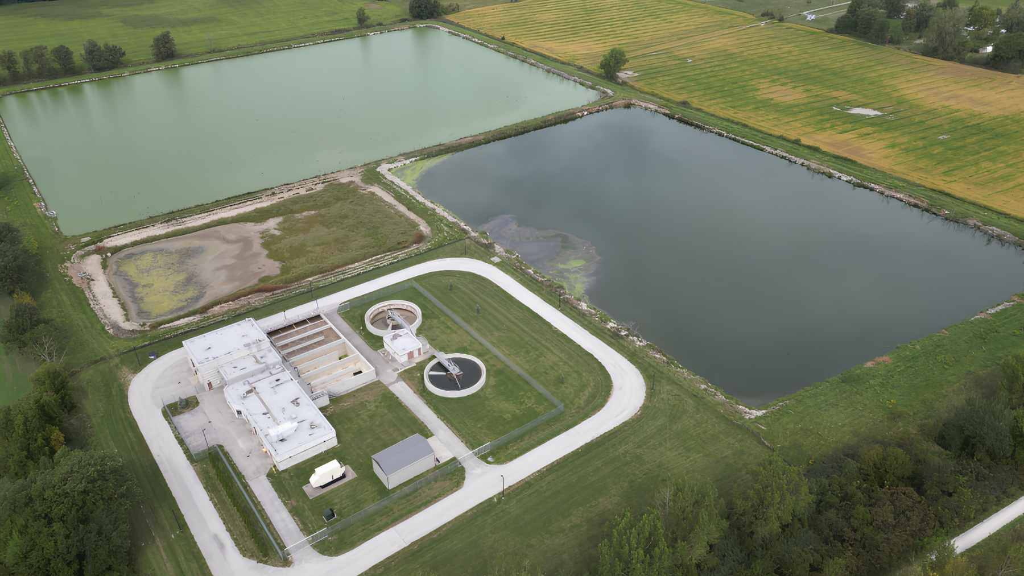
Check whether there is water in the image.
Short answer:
Yes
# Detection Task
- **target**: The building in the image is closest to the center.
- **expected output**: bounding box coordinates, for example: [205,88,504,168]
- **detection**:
[381,327,423,364]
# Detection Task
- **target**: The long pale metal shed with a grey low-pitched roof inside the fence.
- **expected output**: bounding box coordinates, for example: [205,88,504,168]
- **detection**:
[372,435,436,490]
